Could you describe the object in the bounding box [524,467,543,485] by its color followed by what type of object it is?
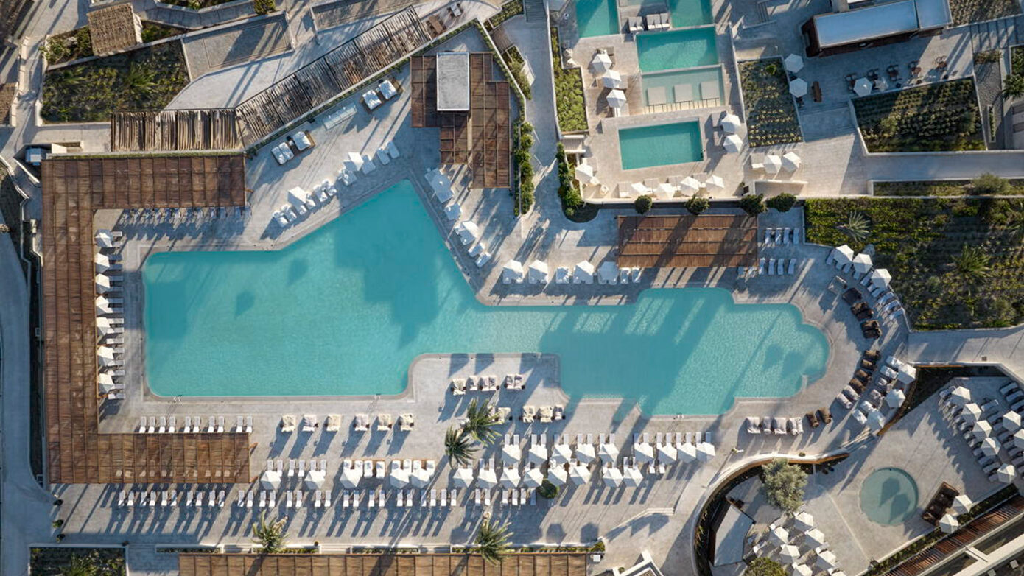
white umbrella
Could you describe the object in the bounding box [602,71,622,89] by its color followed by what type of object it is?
white umbrella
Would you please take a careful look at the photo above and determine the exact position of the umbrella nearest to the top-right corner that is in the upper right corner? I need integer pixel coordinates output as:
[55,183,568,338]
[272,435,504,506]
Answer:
[851,78,871,97]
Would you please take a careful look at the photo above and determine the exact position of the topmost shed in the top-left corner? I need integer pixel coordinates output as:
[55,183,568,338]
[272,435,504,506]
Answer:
[86,1,145,59]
